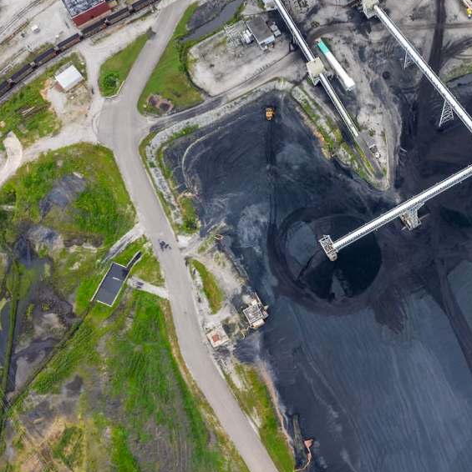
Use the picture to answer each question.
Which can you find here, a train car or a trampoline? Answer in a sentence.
This aerial view contains a train car.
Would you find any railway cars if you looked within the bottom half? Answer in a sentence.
No, I see no railway car within the bottom half.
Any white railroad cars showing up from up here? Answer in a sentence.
No, no white railroad car is visible in the scene.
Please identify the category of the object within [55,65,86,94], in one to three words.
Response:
shed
